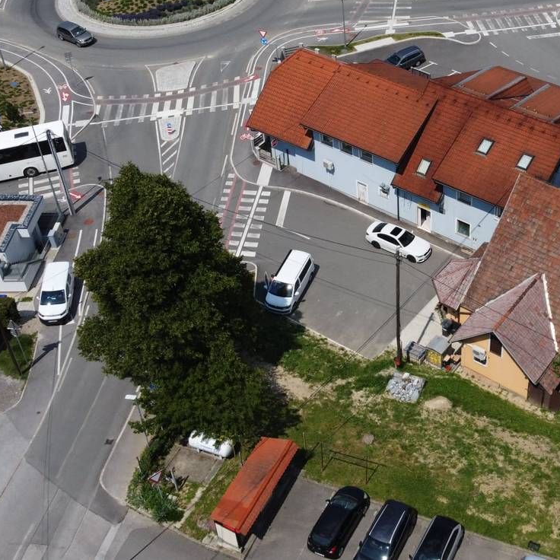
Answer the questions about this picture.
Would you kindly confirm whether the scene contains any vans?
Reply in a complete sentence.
Yes, there's a van here.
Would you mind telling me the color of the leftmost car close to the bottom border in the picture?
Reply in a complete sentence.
From above, the leftmost car close to the bottom border appears black.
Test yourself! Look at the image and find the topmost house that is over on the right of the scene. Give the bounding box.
[246,49,560,251]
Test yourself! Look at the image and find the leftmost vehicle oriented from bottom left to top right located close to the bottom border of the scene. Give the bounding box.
[304,487,373,560]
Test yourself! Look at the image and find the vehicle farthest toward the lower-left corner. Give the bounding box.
[40,262,77,323]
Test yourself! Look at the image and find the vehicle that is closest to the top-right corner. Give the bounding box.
[386,45,427,71]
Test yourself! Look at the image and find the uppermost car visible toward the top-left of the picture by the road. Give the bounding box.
[57,21,96,51]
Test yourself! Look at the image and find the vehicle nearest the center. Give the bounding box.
[262,251,315,315]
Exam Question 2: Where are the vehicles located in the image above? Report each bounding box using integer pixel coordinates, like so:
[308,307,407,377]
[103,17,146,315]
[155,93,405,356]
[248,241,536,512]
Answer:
[40,262,77,323]
[0,119,70,175]
[304,487,373,560]
[524,545,560,560]
[57,21,96,51]
[262,251,315,315]
[415,510,477,560]
[386,45,427,71]
[353,496,421,560]
[365,224,430,259]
